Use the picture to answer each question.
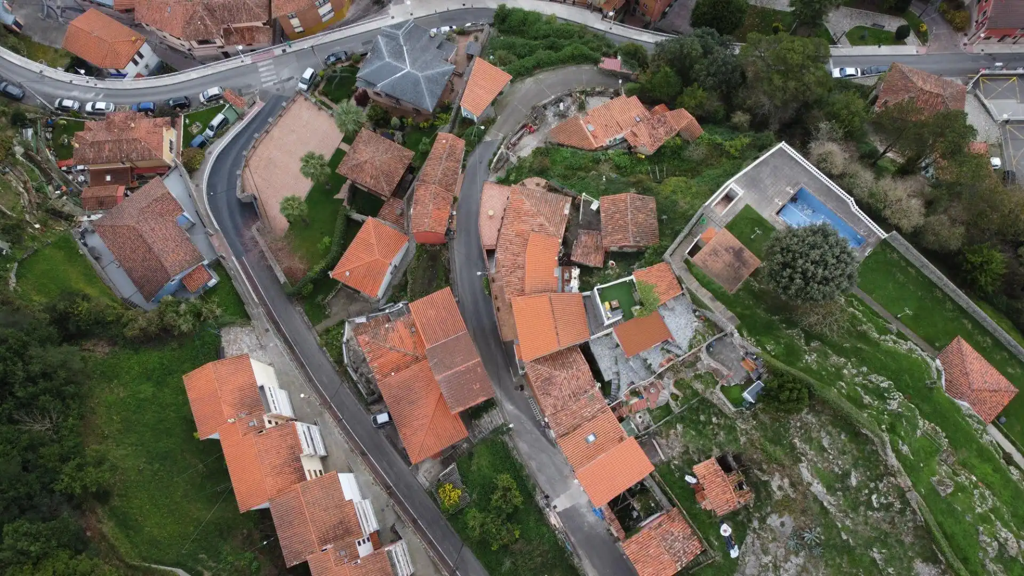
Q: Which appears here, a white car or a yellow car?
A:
white car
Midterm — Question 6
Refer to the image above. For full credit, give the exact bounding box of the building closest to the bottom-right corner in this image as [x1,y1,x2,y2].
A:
[932,335,1020,424]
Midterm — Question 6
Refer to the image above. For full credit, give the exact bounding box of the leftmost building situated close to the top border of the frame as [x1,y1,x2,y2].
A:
[0,2,34,43]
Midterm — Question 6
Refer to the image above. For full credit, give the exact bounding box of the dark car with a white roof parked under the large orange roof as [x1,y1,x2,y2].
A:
[367,412,395,429]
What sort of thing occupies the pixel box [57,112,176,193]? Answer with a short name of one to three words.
house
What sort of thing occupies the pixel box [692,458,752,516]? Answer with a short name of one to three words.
shed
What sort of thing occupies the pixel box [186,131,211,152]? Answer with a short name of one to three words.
car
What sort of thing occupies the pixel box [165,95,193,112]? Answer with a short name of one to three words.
car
